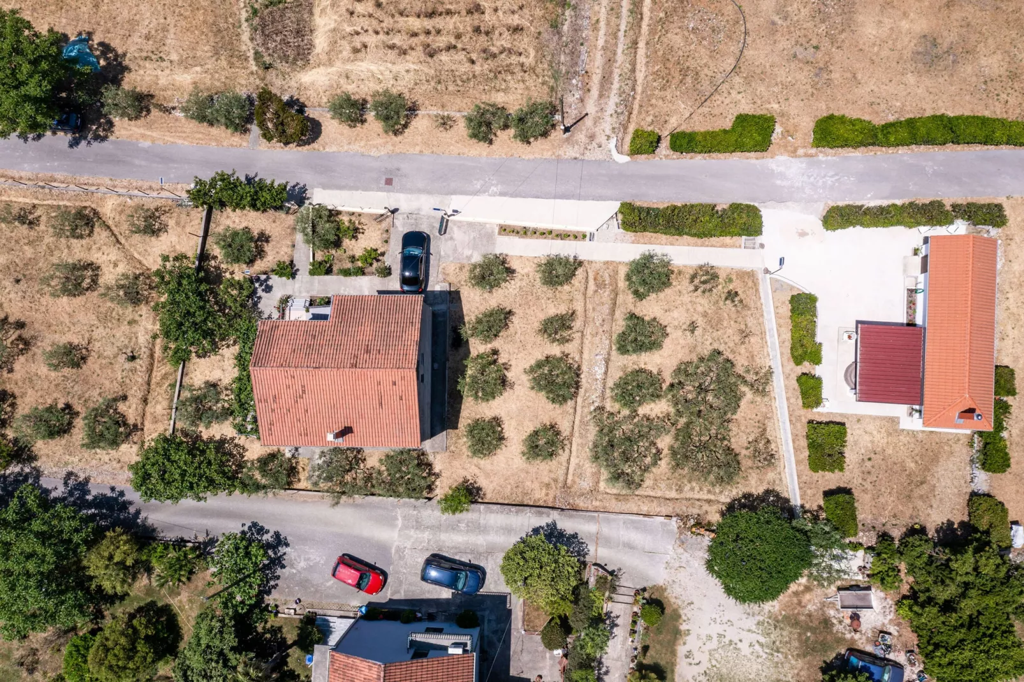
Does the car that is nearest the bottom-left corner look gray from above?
No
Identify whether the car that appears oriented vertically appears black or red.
black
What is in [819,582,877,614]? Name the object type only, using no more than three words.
trailer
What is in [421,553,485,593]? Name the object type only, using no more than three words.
car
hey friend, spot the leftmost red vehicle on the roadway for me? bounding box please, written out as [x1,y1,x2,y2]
[331,554,386,592]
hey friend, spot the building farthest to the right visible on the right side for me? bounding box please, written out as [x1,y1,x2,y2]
[898,233,998,432]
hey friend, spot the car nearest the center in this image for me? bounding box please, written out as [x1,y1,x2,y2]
[399,231,430,294]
